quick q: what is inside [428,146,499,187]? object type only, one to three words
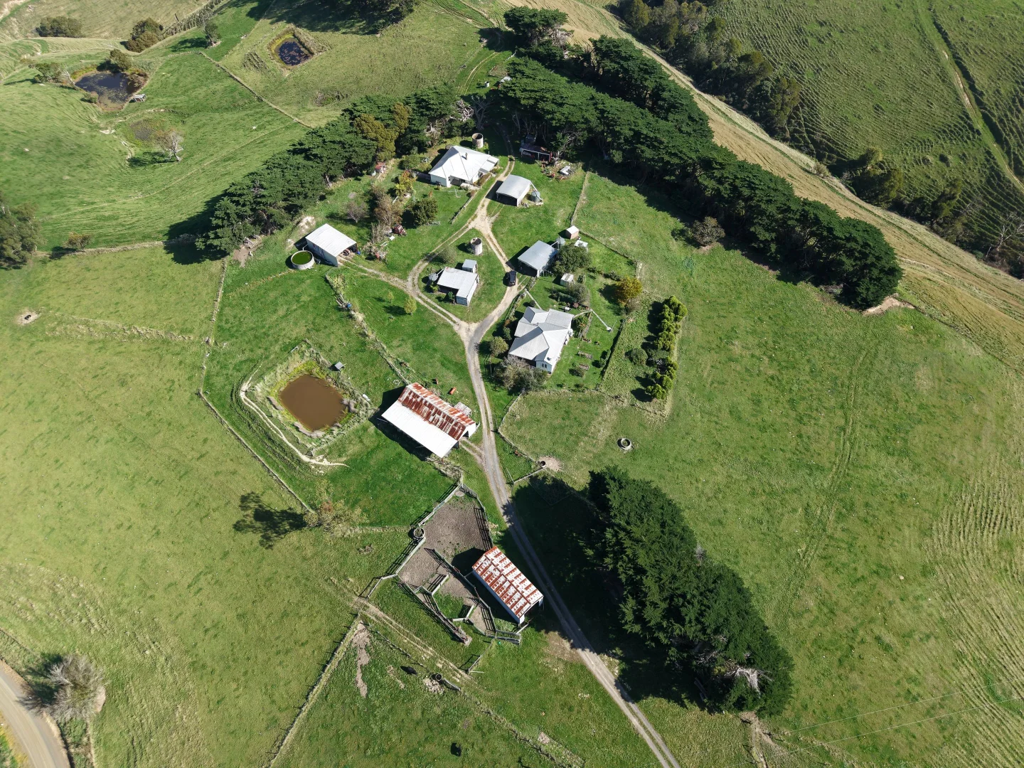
house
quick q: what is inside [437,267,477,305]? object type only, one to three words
shed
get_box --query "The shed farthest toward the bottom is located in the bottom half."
[471,546,545,623]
